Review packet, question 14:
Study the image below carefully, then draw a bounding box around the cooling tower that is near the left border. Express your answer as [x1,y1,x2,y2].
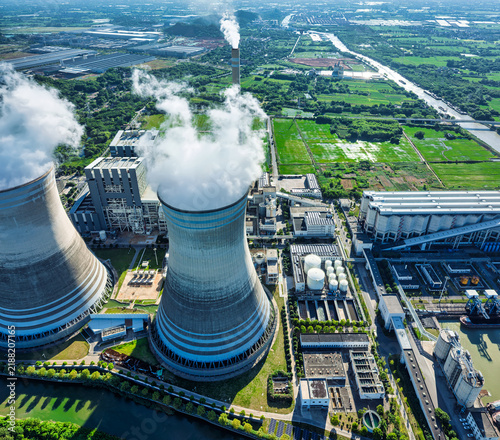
[0,154,117,348]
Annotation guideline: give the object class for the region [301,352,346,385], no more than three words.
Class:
building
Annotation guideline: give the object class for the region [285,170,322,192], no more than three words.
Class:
building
